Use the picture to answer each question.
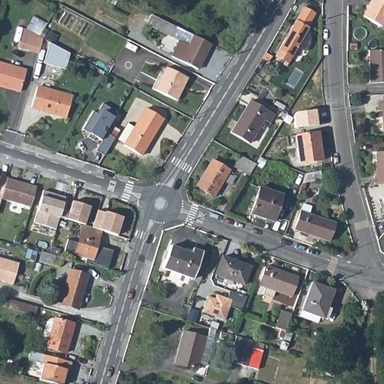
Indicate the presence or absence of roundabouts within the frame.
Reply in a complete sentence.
Yes, the picture does show a roundabout.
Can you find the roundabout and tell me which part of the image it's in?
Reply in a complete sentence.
The roundabout is in the center part of the image.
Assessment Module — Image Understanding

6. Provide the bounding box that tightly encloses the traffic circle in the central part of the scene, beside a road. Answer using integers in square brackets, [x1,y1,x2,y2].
[120,162,202,244]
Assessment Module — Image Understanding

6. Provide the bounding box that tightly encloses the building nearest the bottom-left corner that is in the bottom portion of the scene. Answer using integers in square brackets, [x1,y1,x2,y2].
[28,352,72,384]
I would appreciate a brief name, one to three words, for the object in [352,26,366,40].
swimming pool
